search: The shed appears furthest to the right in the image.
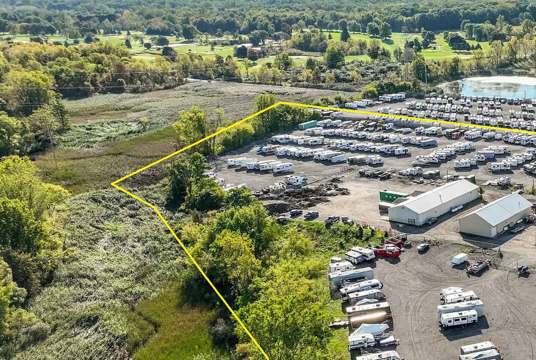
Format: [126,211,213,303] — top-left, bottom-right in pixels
[457,196,533,237]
